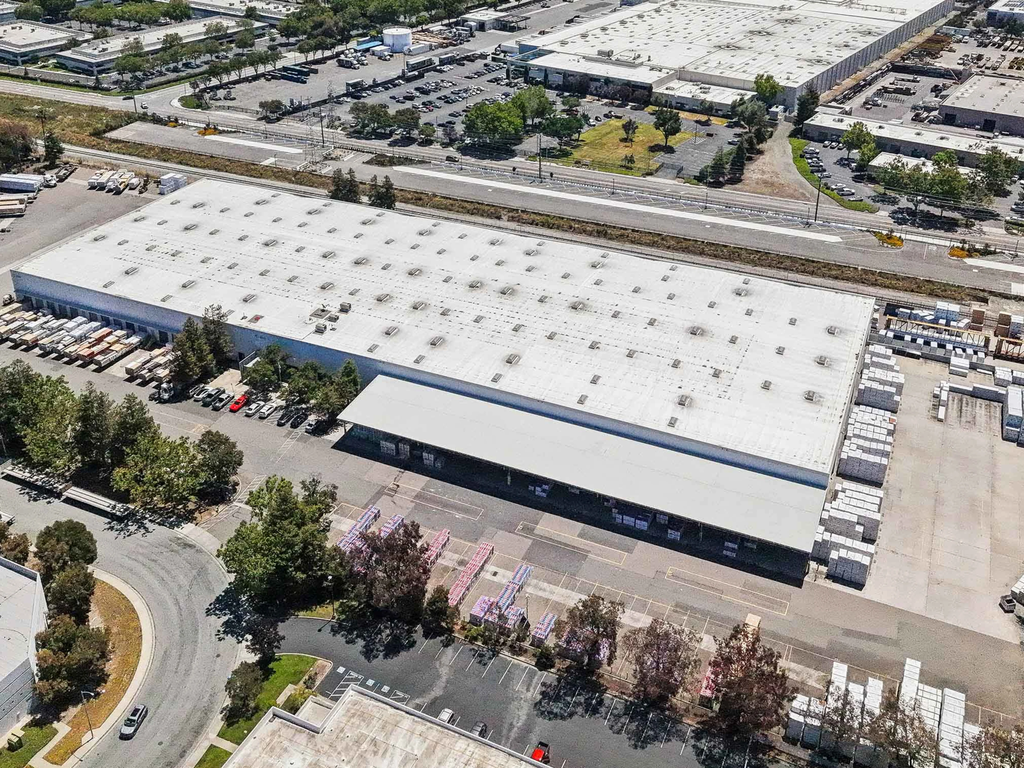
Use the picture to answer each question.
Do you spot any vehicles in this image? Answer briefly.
Yes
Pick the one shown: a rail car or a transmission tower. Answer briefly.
transmission tower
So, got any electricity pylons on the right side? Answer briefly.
No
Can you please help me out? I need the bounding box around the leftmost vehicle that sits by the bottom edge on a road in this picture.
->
[114,699,152,740]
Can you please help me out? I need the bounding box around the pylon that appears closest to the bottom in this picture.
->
[296,120,328,172]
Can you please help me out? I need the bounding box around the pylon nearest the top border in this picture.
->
[318,78,343,125]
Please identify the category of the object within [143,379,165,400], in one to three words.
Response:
truck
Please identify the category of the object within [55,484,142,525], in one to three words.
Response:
trailer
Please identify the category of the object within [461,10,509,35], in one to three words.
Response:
building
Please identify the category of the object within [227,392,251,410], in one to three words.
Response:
car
